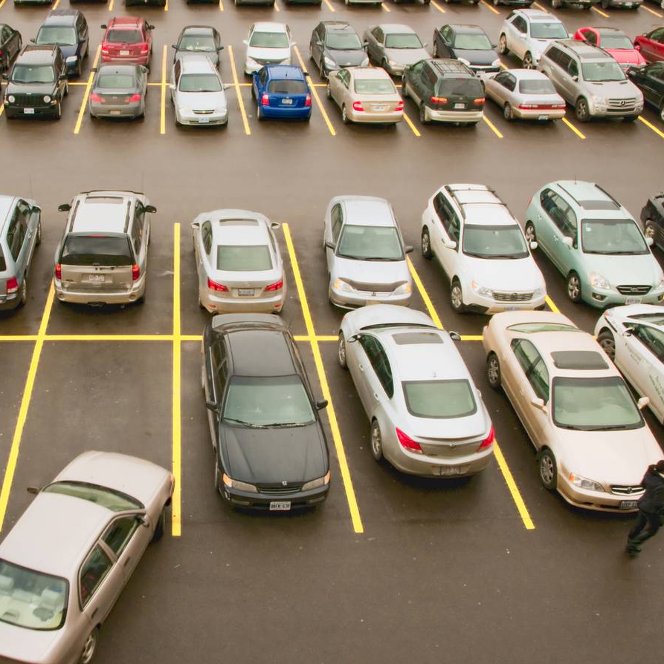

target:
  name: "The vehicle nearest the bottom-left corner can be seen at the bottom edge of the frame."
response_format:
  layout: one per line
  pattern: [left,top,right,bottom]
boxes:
[0,454,175,664]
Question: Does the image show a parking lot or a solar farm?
parking lot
